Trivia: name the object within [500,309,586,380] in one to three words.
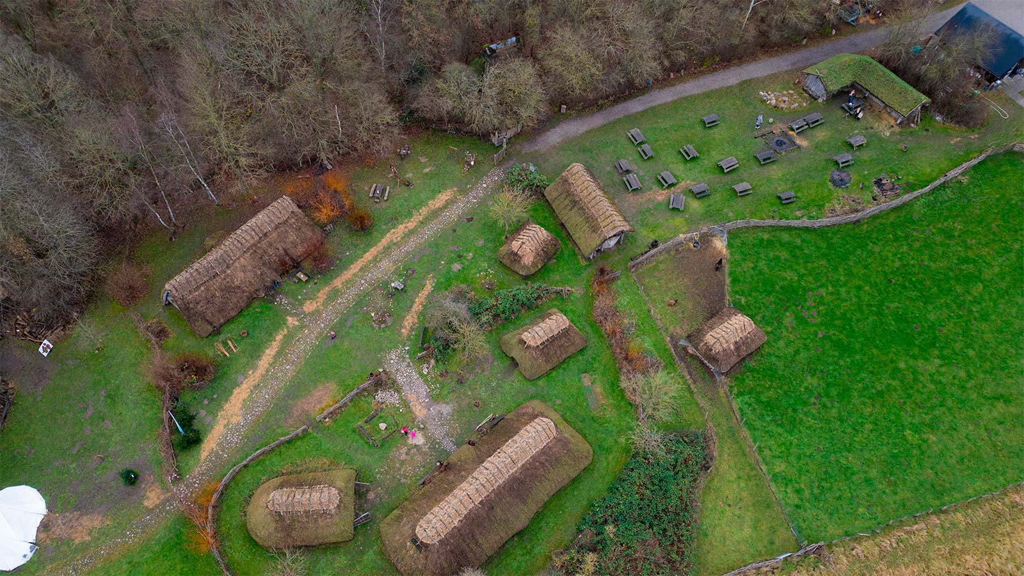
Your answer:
building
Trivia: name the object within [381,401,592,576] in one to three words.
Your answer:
house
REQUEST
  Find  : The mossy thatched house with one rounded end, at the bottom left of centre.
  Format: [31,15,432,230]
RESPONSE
[246,470,356,548]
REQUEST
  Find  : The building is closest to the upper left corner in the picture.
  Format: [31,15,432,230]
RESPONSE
[160,193,325,337]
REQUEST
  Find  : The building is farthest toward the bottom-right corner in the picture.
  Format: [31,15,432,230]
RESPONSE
[692,310,765,373]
